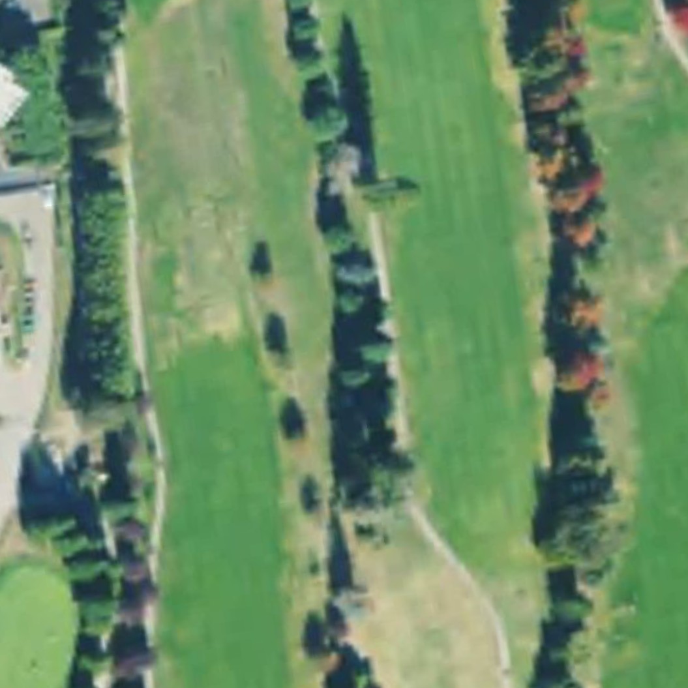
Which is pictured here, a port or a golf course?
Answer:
golf course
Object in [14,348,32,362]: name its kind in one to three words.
car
